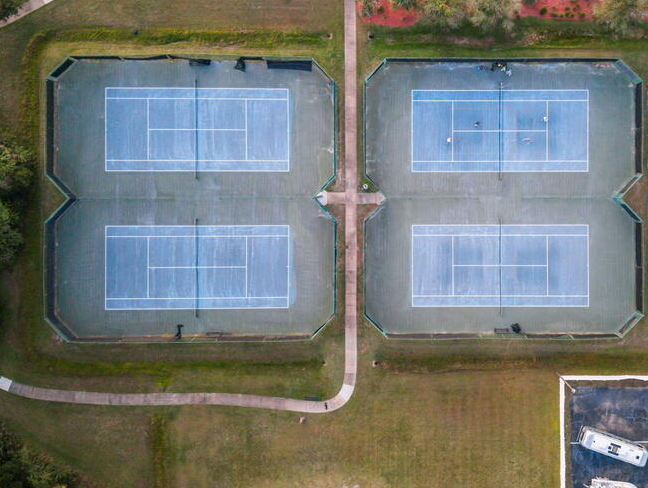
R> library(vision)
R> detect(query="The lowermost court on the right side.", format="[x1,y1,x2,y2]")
[367,198,633,333]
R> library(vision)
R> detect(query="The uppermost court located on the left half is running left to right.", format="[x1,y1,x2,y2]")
[59,64,335,198]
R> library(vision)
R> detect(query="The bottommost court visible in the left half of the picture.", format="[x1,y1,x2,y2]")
[58,198,334,335]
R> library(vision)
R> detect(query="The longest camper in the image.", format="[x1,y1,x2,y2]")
[573,423,647,468]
